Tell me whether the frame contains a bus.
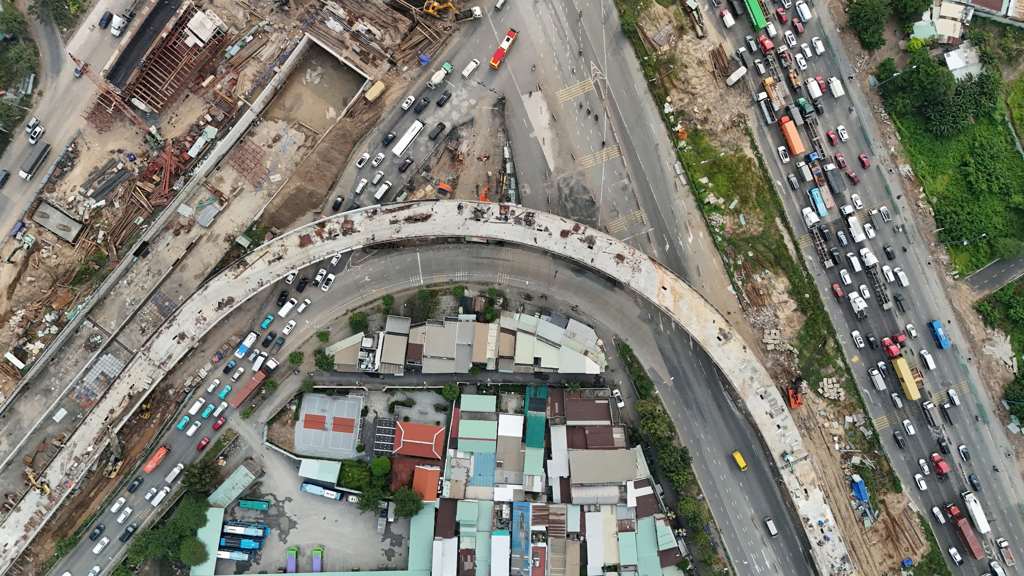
Yes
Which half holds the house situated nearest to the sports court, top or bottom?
bottom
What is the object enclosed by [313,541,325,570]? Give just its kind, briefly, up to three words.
vehicle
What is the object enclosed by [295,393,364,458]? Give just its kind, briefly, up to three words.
sports court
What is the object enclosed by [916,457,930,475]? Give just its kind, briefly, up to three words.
car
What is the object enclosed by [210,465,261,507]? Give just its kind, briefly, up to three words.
house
